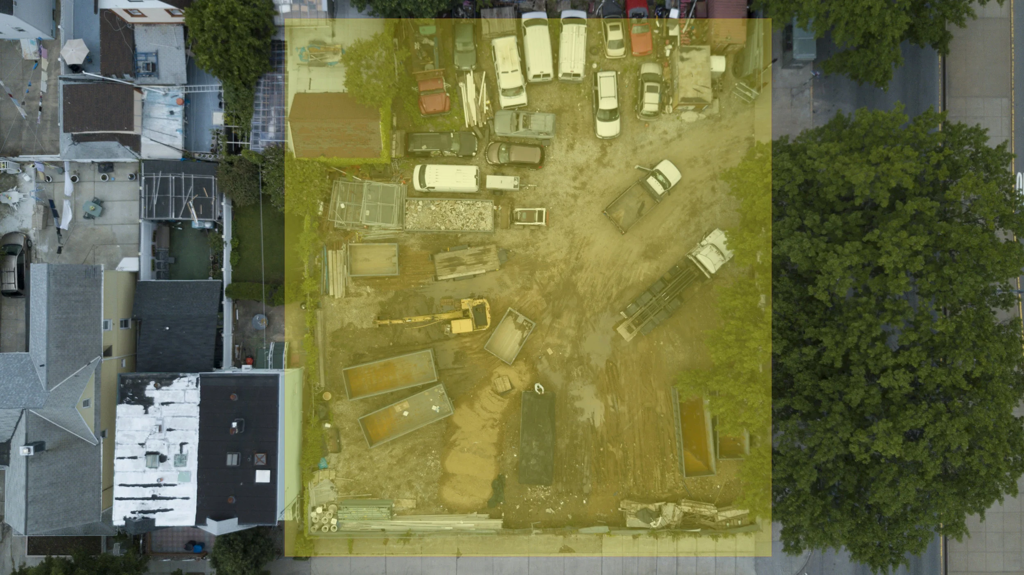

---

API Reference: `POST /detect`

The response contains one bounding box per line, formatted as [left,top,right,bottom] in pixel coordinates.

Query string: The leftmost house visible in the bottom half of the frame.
[0,263,138,536]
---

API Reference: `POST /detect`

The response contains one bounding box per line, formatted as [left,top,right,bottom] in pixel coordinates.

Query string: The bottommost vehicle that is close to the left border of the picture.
[0,233,35,297]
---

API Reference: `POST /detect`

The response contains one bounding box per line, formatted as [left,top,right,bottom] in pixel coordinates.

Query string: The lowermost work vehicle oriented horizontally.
[372,298,491,335]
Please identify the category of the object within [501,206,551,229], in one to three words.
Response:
work vehicle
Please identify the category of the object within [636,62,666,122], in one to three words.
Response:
car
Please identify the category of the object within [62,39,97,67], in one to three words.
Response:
umbrella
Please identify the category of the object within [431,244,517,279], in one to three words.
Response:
trailer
